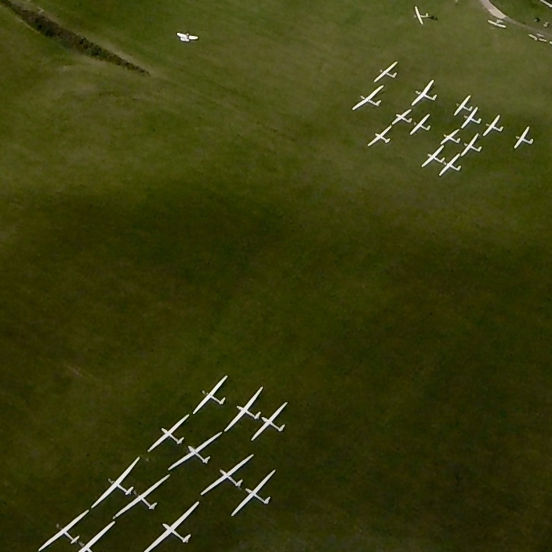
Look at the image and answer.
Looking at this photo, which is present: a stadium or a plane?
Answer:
plane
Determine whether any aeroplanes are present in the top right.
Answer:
Yes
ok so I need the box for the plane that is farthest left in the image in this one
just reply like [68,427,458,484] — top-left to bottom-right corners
[39,511,89,550]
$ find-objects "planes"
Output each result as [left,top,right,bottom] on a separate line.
[148,416,189,450]
[80,520,114,552]
[441,154,461,174]
[391,108,412,125]
[514,128,533,147]
[193,376,227,413]
[168,431,221,471]
[252,402,286,442]
[225,388,263,429]
[353,85,383,109]
[414,6,429,25]
[368,125,391,146]
[375,62,399,79]
[39,511,89,550]
[412,79,435,105]
[462,108,481,126]
[202,456,253,493]
[488,18,506,28]
[232,469,274,517]
[483,116,503,135]
[113,473,169,520]
[454,96,474,114]
[441,130,461,144]
[92,456,138,508]
[411,115,432,133]
[174,31,199,40]
[145,501,198,552]
[421,145,445,168]
[462,135,481,154]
